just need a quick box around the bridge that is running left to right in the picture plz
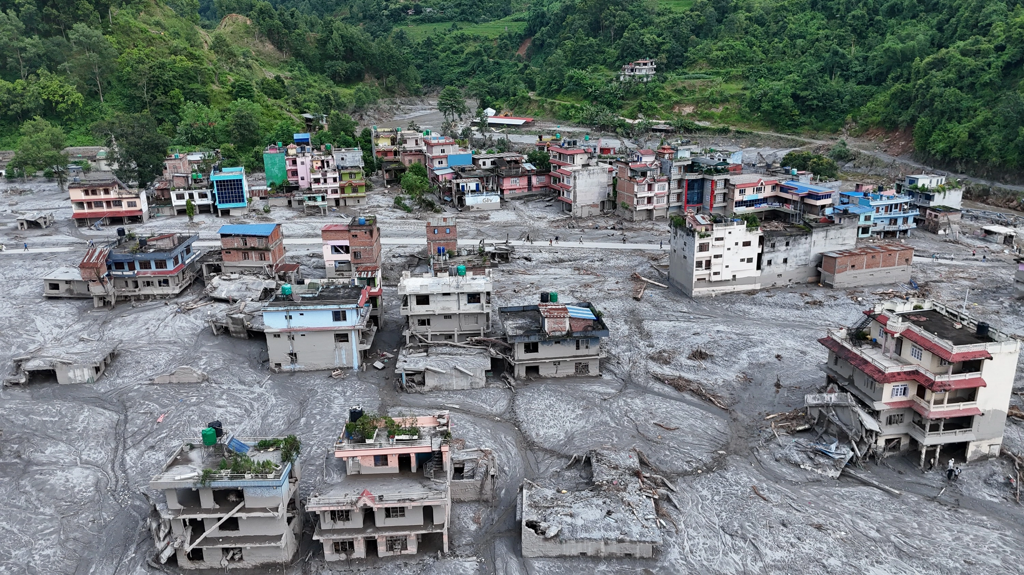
[962,201,1024,225]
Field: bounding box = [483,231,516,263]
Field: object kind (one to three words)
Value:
building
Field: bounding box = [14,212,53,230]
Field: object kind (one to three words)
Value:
shed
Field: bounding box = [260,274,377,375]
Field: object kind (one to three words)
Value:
house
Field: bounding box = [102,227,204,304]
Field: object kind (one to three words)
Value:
house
